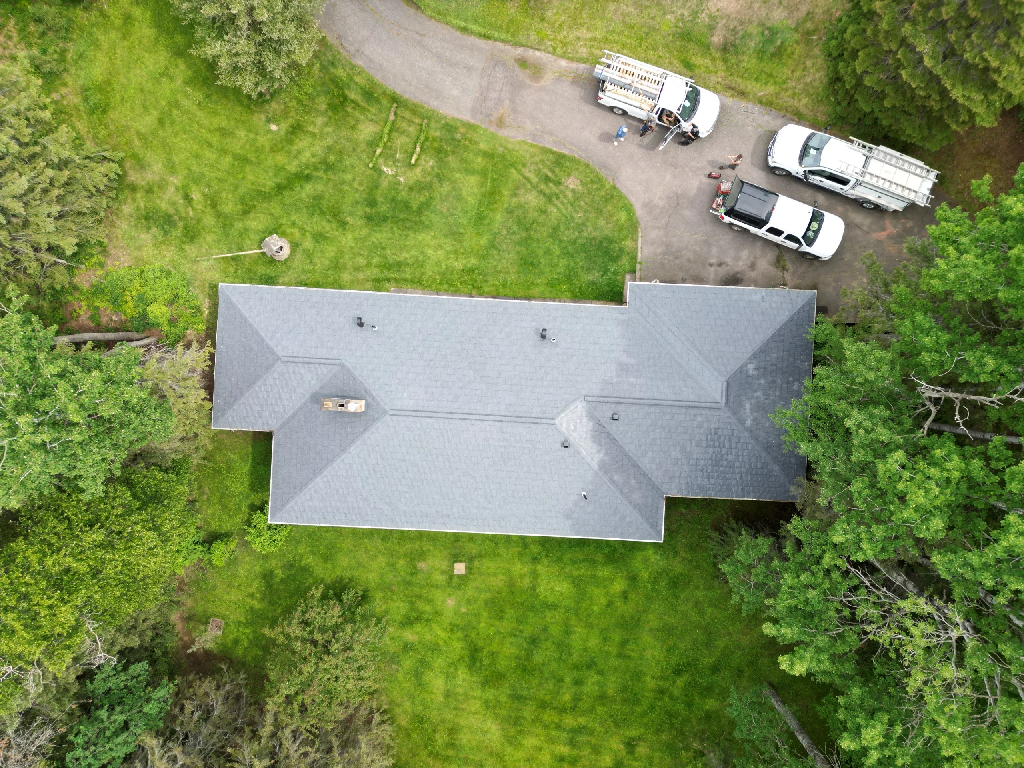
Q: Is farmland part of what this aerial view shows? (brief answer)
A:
No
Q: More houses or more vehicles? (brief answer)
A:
vehicles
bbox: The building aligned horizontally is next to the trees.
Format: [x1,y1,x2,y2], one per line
[210,280,818,544]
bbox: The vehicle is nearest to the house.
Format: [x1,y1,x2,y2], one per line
[707,170,843,263]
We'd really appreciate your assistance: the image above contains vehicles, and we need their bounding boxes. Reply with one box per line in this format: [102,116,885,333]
[594,52,720,151]
[707,170,843,263]
[763,124,935,217]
